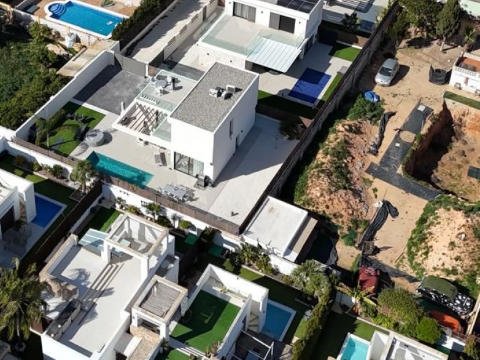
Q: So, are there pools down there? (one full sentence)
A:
Yes, the image includes a pool.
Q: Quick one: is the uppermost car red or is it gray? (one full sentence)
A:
The uppermost car is gray.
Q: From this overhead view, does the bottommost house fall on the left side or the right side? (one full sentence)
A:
You can find the bottommost house on the right side of the picture.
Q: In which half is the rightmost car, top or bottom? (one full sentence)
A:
Seen from above, the rightmost car lies in the bottom half of the view.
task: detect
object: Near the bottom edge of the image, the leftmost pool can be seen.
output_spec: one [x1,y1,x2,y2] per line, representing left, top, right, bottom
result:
[265,300,298,344]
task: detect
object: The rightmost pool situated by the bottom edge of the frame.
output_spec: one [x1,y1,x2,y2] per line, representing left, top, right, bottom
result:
[334,330,376,360]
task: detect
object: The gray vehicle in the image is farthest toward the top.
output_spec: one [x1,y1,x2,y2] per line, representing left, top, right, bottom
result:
[374,55,399,85]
